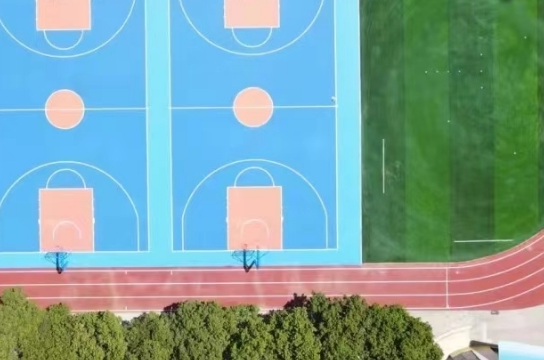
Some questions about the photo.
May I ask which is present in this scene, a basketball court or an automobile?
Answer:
basketball court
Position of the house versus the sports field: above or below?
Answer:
below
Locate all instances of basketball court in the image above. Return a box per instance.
[0,0,148,254]
[170,0,336,252]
